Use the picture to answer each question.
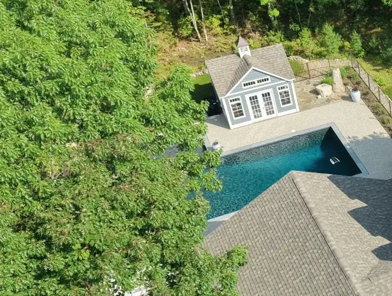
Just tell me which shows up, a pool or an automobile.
pool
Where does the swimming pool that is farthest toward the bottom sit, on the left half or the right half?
right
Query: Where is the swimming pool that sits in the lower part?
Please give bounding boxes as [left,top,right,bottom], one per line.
[150,123,368,232]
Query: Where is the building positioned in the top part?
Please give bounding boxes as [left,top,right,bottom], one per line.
[205,29,300,128]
